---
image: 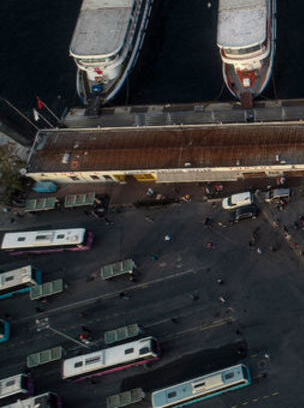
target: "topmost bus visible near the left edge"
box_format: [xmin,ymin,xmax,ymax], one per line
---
[1,229,97,256]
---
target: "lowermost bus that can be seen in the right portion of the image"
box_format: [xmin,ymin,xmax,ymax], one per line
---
[153,362,255,408]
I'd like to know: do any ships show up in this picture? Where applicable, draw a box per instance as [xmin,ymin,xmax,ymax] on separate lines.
[217,0,283,103]
[69,0,151,109]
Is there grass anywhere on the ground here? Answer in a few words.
No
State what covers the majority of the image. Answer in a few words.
paved ground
